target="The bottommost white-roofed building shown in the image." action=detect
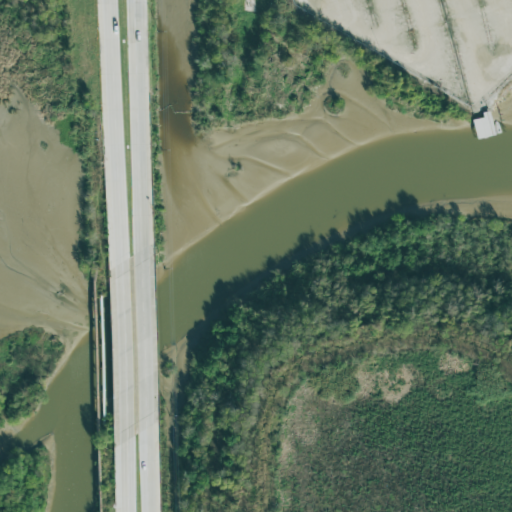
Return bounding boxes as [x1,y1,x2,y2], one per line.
[474,111,498,140]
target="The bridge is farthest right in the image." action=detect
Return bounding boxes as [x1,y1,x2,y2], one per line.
[110,246,159,446]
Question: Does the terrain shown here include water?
Yes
